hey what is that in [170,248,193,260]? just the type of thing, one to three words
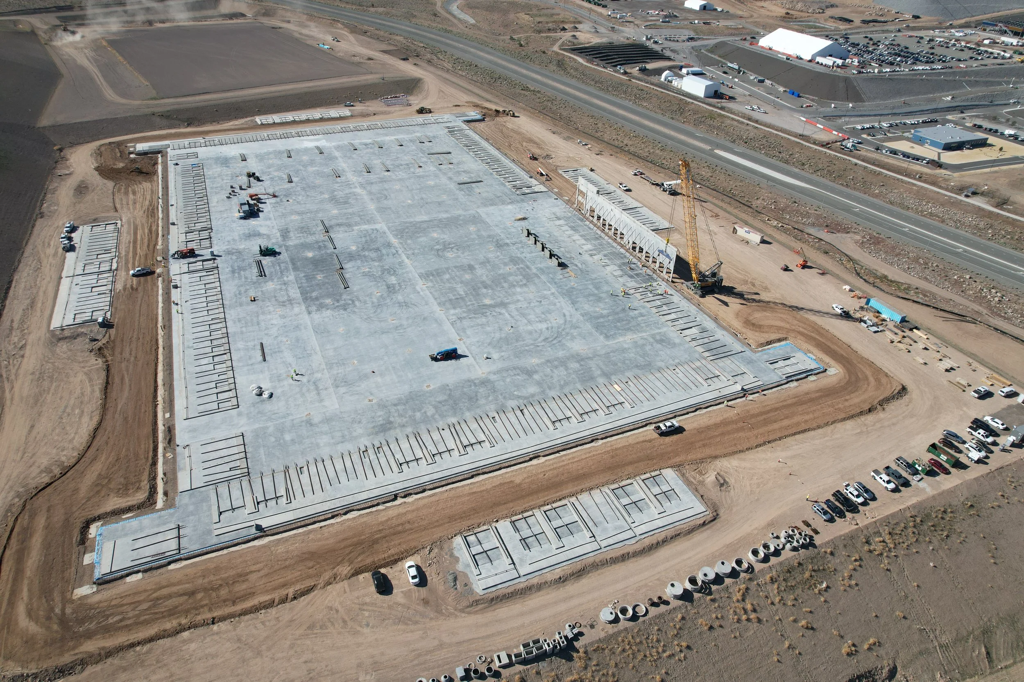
vehicle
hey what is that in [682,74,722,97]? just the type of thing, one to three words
shed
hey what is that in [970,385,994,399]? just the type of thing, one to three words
vehicle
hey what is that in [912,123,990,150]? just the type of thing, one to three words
building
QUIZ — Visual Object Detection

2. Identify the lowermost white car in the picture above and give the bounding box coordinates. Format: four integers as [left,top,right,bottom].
[405,560,421,587]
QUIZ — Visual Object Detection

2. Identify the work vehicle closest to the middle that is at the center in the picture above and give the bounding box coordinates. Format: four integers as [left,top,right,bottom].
[428,349,458,364]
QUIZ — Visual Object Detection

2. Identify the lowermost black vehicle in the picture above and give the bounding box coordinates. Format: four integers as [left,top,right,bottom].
[370,572,388,596]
